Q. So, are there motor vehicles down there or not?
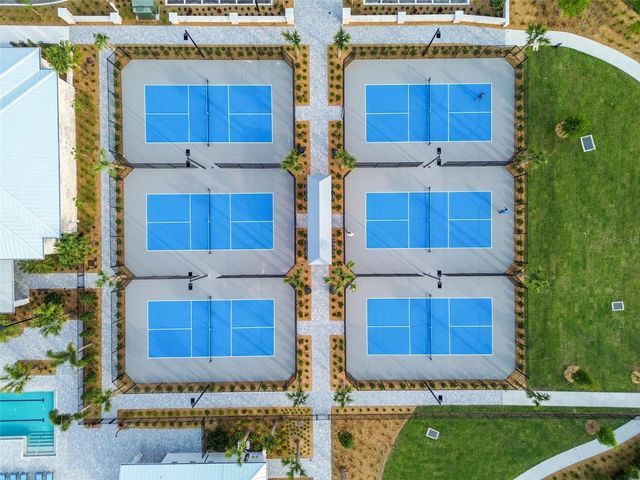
No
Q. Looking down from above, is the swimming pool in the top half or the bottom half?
bottom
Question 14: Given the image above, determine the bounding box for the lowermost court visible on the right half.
[344,274,516,381]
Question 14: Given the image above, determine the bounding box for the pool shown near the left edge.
[0,390,56,457]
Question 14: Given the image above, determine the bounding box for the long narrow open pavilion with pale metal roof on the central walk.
[308,175,331,264]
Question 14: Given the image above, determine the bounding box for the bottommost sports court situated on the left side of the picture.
[124,275,296,382]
